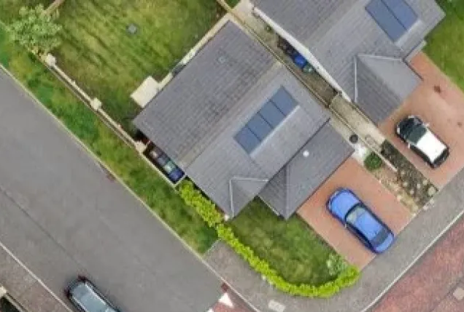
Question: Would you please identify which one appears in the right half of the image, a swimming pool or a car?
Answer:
car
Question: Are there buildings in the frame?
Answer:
Yes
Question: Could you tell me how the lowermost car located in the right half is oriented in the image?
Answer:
on a diagonal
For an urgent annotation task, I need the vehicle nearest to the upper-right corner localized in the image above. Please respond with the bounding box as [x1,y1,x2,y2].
[393,111,455,172]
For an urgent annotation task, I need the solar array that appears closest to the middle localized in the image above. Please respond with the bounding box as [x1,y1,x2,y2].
[233,86,303,158]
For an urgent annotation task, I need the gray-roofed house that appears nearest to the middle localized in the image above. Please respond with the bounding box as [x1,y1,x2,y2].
[134,18,355,220]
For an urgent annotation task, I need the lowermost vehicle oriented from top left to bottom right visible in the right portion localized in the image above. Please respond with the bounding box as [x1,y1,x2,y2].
[327,184,396,257]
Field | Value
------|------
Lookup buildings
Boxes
[134,18,355,220]
[250,0,448,127]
